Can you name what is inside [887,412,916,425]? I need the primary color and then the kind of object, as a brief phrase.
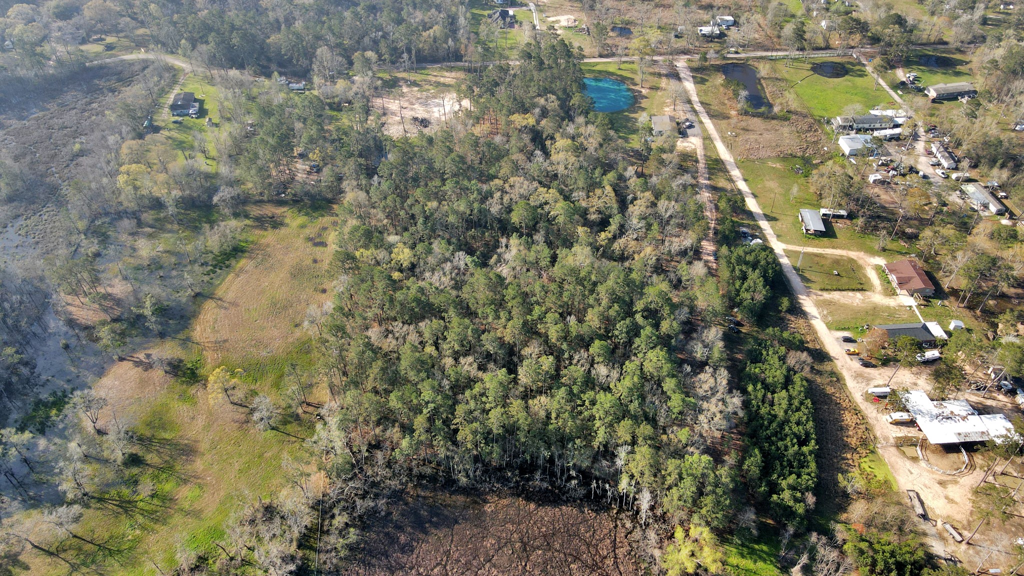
white vehicle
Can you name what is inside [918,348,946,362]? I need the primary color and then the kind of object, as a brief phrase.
white camper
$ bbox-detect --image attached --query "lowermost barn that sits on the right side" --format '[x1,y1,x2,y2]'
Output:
[894,391,1024,452]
